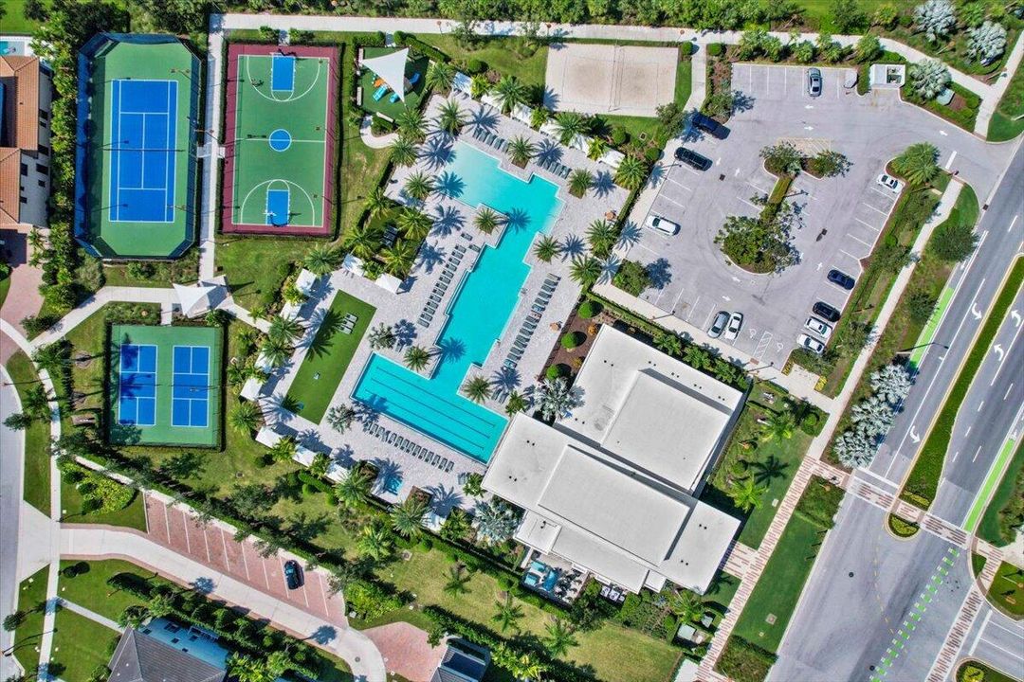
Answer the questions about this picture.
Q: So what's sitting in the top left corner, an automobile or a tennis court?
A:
tennis court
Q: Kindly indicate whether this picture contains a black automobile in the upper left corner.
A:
No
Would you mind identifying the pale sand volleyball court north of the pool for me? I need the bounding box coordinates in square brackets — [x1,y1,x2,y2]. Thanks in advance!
[545,42,679,117]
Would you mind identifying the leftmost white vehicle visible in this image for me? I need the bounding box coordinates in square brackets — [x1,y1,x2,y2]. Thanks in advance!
[647,215,677,235]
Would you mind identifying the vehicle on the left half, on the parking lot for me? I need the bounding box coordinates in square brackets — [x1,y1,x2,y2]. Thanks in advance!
[286,560,302,589]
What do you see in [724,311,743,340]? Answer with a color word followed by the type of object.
white car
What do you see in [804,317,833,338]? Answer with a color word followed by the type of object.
white car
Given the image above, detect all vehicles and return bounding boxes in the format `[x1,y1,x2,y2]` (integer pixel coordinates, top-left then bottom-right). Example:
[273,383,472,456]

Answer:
[286,560,302,589]
[825,270,856,290]
[808,68,823,97]
[678,147,710,170]
[647,215,677,235]
[804,317,833,338]
[796,332,826,354]
[724,311,743,340]
[708,310,729,338]
[812,300,841,322]
[875,173,904,192]
[693,112,730,139]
